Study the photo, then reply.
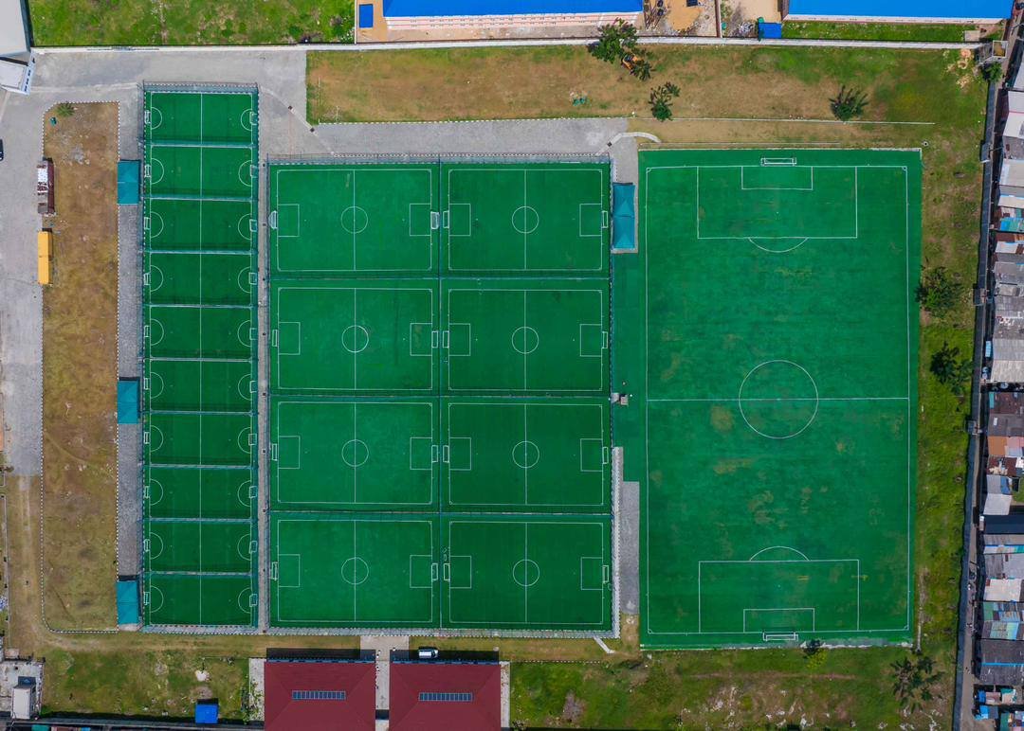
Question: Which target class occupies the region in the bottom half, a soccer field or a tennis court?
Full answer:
There is a soccer field in the bottom half.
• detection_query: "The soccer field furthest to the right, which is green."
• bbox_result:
[612,147,922,651]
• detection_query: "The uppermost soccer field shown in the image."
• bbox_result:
[145,93,258,145]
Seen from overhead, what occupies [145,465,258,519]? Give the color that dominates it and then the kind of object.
green soccer field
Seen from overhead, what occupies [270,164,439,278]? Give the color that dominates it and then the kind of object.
green soccer field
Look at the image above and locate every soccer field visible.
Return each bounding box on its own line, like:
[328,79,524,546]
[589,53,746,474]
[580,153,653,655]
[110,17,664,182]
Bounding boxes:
[145,305,258,359]
[270,397,439,513]
[440,513,611,628]
[270,164,439,278]
[145,251,258,305]
[145,465,258,519]
[612,147,922,651]
[145,518,256,572]
[145,358,258,412]
[440,164,611,276]
[145,93,258,145]
[145,412,258,466]
[270,514,439,628]
[440,278,611,396]
[145,572,258,626]
[270,279,439,396]
[145,198,258,252]
[145,144,258,199]
[440,397,611,513]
